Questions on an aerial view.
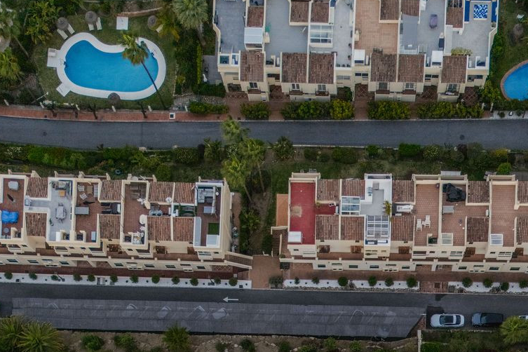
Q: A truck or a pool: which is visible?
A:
pool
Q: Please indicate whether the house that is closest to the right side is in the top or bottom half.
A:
bottom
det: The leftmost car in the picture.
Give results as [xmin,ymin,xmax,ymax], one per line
[428,311,466,328]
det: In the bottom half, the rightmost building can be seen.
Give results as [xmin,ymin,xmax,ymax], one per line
[478,179,528,280]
